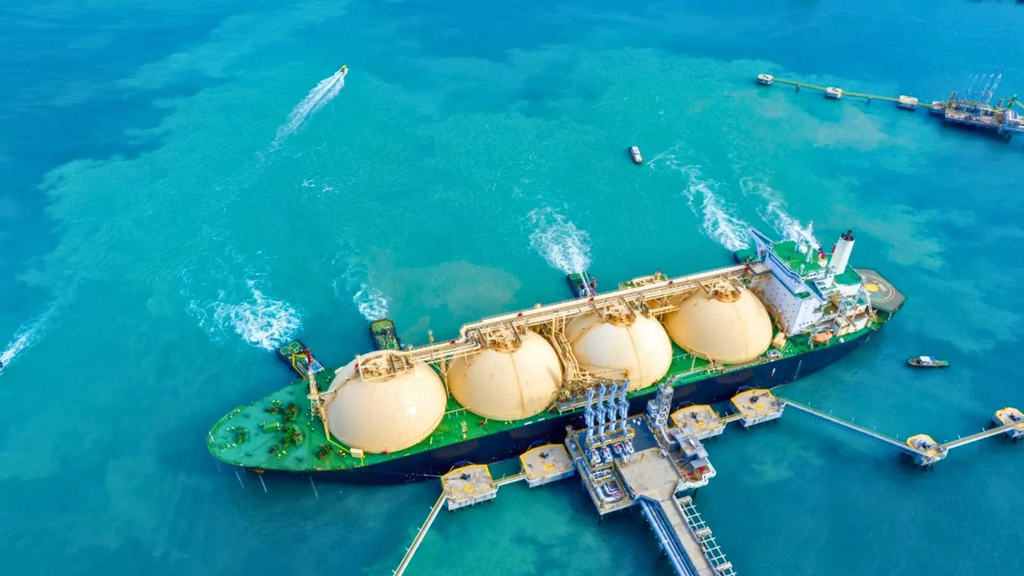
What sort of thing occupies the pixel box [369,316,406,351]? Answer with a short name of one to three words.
boat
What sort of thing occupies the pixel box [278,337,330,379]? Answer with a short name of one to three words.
boat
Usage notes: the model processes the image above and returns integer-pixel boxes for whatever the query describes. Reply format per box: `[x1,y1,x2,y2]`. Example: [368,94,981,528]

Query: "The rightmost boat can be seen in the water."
[908,354,953,368]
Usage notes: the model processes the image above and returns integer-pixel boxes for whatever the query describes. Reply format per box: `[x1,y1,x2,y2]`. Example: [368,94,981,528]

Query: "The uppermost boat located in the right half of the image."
[628,143,642,162]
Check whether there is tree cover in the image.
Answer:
No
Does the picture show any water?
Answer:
Yes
